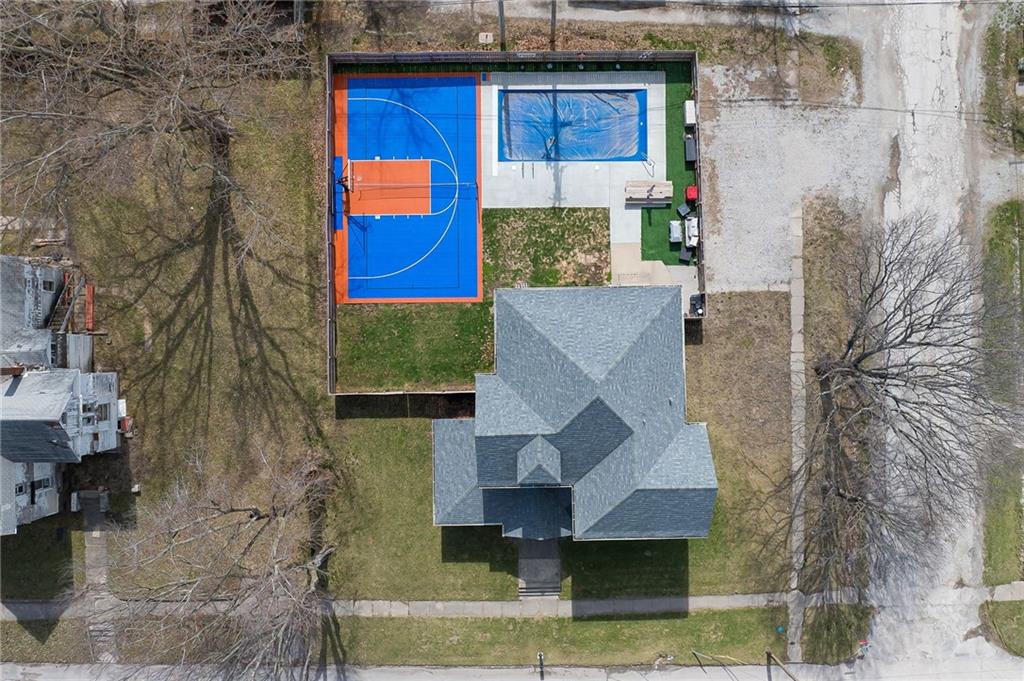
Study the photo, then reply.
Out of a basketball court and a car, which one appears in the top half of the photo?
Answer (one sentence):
The one visible in the top half of the photo is a basketball court.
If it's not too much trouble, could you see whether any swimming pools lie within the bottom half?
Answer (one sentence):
No, there's no swimming pool to be seen within the bottom half.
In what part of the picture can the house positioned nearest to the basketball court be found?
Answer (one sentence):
You can find the house positioned nearest to the basketball court in the center area of the picture.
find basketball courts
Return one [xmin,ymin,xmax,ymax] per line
[335,72,483,303]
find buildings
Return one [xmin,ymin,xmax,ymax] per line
[432,285,718,541]
[0,259,120,537]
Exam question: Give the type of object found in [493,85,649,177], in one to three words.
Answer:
swimming pool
